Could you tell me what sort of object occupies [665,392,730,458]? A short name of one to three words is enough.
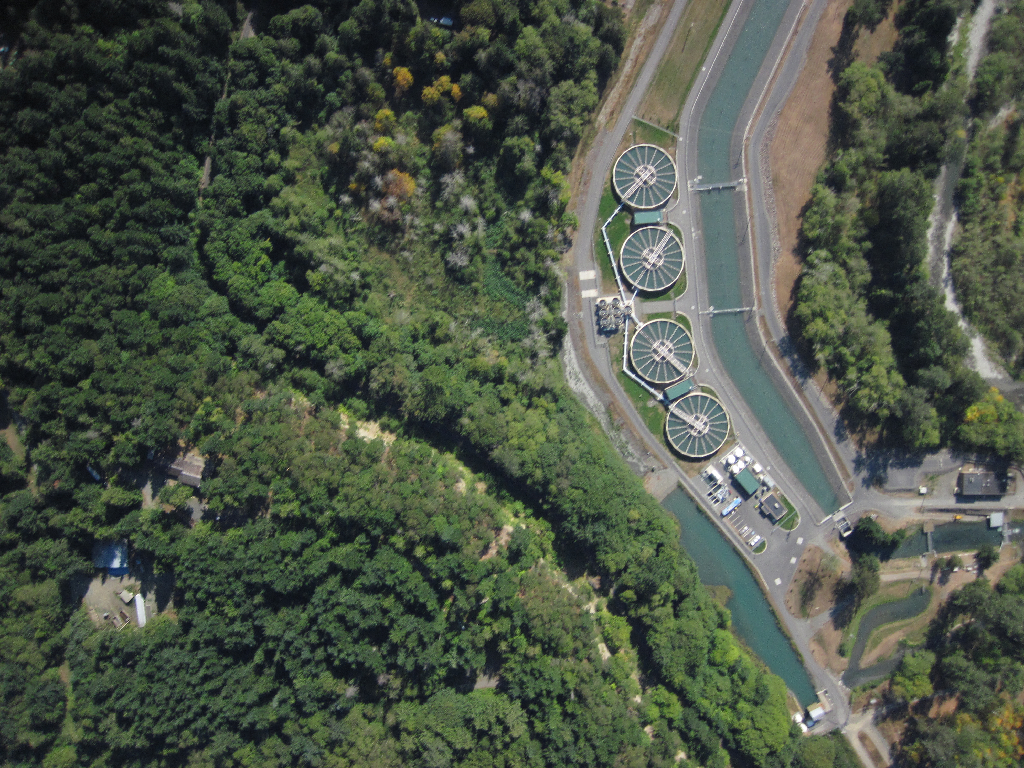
water tank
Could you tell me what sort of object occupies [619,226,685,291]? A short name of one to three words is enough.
water tank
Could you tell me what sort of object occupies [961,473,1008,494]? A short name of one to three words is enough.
building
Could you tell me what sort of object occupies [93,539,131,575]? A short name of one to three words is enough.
barn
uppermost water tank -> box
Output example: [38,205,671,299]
[612,144,677,209]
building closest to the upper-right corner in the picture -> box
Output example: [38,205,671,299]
[633,211,663,225]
